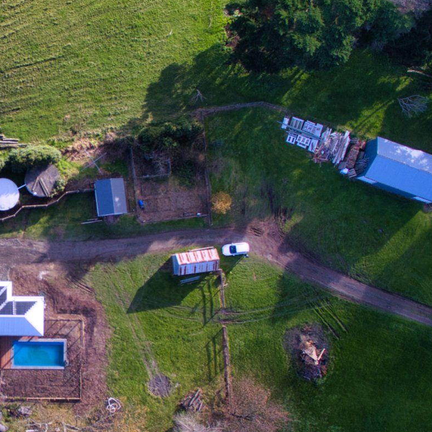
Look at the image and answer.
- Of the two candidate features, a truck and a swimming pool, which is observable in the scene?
swimming pool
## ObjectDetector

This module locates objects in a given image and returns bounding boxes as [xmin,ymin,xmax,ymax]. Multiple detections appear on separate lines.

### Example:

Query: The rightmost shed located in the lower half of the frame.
[171,249,219,276]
